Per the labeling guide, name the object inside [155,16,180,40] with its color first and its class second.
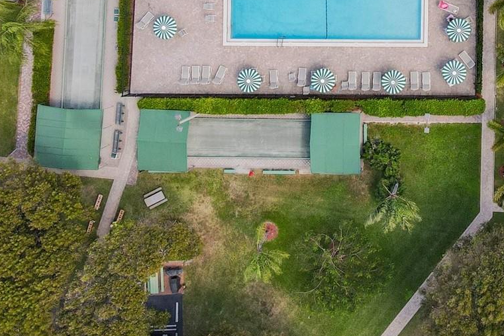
white umbrella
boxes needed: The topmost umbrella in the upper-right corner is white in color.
[446,18,471,41]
